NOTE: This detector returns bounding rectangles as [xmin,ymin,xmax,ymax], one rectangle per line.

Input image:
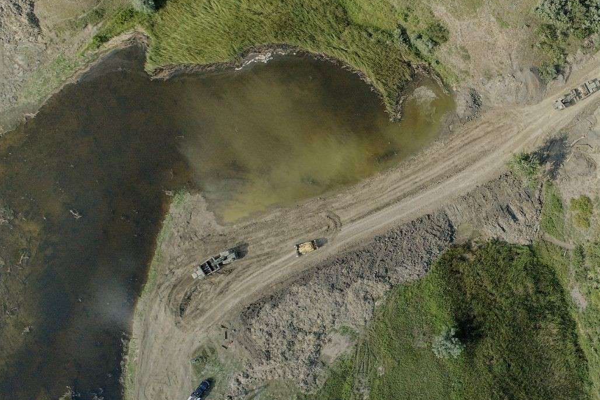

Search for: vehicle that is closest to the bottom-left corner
[187,381,209,400]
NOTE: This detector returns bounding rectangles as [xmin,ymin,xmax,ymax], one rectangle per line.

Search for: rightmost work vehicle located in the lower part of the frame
[294,239,319,258]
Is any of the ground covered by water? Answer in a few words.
Yes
